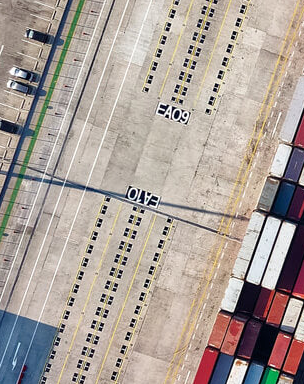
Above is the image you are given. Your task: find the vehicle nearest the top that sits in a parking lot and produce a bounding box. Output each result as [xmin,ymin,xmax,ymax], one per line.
[25,28,50,44]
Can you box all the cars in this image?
[25,28,50,44]
[0,119,18,134]
[10,66,34,82]
[7,79,31,95]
